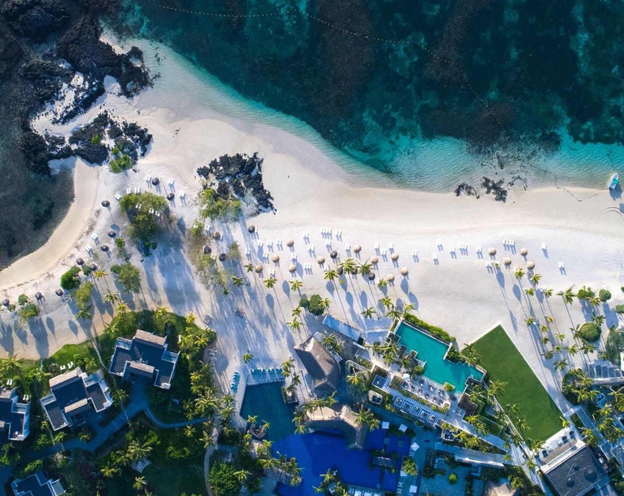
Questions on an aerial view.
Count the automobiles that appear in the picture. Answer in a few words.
0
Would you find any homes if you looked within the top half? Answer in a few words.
No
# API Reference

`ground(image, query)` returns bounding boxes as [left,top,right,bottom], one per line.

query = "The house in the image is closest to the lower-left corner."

[15,468,66,496]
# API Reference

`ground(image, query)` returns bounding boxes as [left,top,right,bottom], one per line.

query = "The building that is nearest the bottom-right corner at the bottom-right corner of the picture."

[538,428,611,496]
